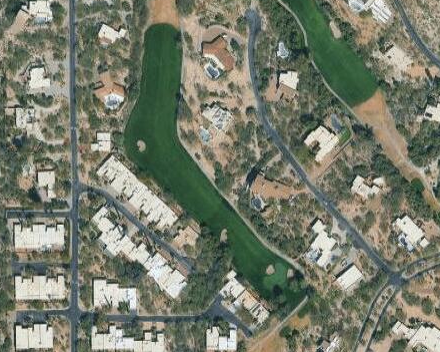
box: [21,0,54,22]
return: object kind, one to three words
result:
house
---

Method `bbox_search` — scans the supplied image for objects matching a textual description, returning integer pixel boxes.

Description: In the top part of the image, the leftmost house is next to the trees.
[5,108,34,127]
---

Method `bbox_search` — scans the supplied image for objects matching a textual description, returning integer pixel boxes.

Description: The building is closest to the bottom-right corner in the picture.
[391,320,440,352]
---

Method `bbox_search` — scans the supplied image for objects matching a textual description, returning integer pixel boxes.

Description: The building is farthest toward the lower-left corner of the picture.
[16,323,54,349]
